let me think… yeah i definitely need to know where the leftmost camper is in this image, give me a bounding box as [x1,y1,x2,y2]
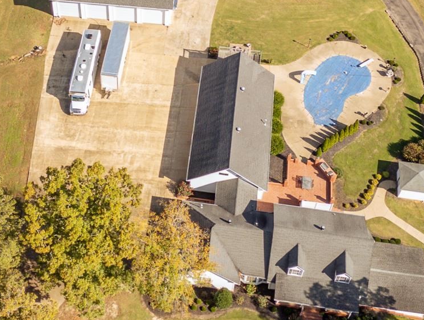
[66,30,101,118]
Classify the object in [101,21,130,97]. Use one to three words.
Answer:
trailer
